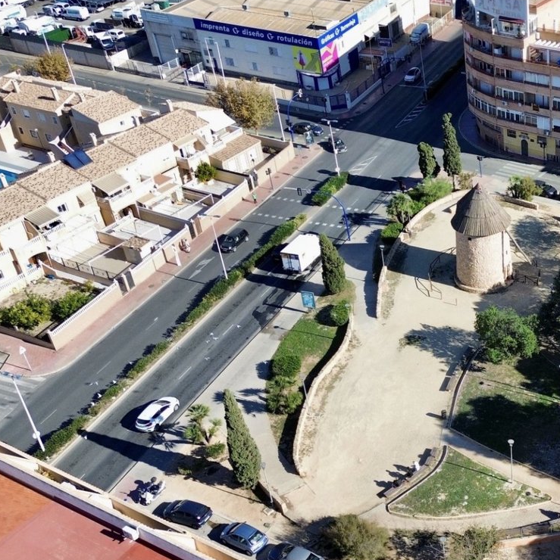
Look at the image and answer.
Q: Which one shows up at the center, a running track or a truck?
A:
truck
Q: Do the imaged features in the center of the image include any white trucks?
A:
Yes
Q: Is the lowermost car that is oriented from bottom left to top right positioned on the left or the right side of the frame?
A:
left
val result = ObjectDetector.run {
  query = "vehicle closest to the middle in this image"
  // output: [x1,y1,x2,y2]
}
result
[272,232,321,275]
